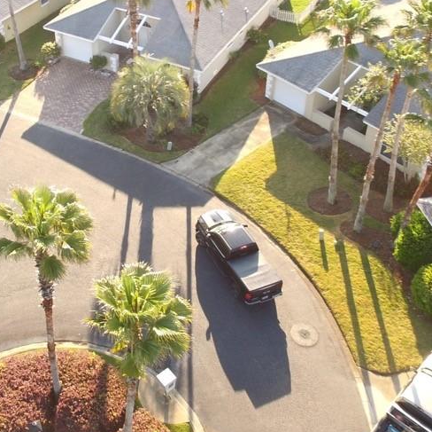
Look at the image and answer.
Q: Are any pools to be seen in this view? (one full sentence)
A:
No, no pool is visible in the view.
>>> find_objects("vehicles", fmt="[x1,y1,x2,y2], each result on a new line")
[195,214,285,311]
[367,361,432,432]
